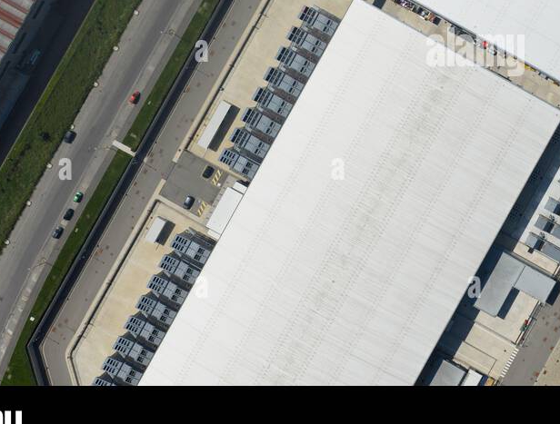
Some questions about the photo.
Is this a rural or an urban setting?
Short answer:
urban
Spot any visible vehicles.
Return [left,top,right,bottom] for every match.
[203,165,215,178]
[53,226,64,239]
[65,129,75,143]
[130,91,141,104]
[73,191,83,203]
[184,195,195,209]
[64,208,74,221]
